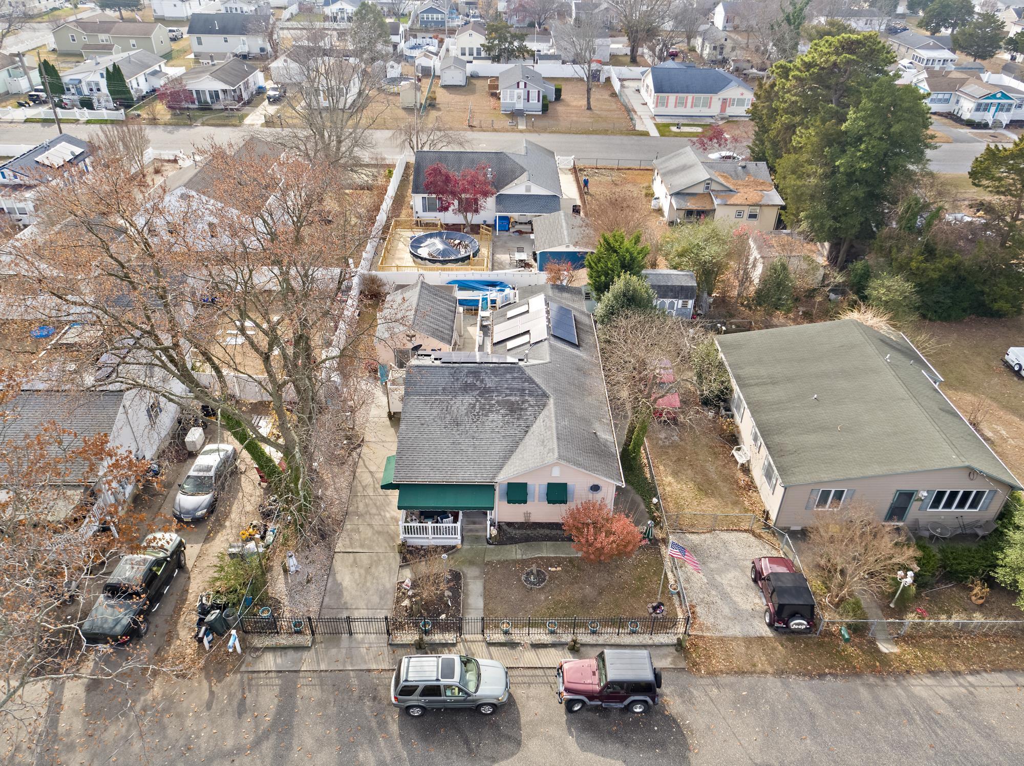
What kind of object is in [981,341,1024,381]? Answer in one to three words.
trailer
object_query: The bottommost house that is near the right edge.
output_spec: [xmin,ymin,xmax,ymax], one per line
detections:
[712,314,1024,559]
